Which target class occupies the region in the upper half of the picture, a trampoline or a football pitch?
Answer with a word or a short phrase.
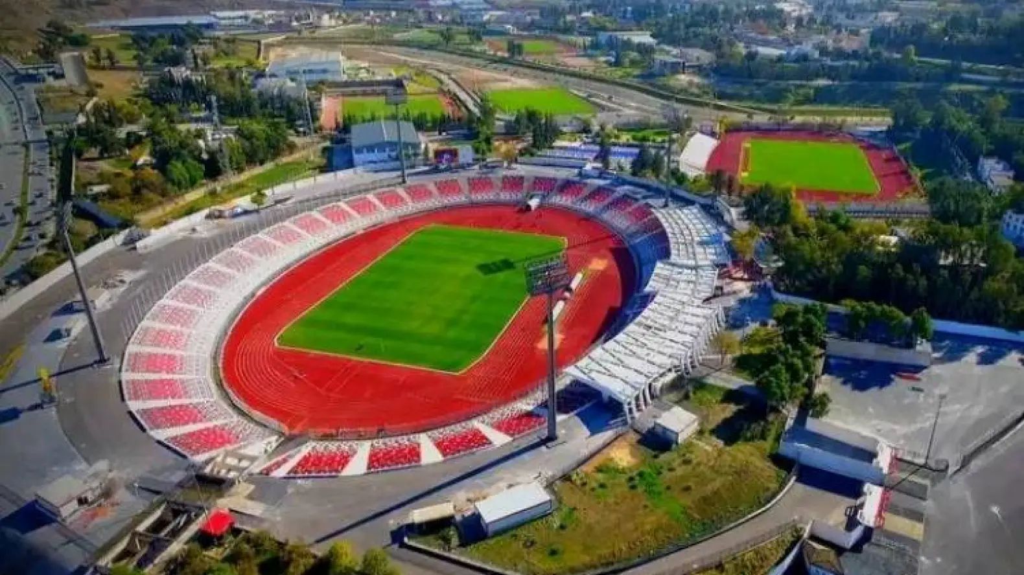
football pitch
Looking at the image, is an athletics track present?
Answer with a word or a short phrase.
Yes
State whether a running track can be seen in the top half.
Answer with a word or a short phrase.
Yes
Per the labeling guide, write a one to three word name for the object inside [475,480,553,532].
shed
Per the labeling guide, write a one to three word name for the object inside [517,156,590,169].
building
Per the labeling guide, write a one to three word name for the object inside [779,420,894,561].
building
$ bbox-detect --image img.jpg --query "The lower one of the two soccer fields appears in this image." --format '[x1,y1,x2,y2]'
[278,224,566,373]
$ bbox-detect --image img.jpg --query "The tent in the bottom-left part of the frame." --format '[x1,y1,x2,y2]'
[199,513,236,542]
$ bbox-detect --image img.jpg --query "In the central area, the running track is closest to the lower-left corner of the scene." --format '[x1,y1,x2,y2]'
[213,202,636,435]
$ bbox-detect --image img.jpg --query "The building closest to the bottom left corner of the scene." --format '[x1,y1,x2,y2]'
[35,473,102,526]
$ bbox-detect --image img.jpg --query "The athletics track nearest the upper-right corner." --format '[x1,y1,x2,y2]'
[708,129,924,203]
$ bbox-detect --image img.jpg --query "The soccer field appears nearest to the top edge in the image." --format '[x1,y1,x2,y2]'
[743,139,879,193]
